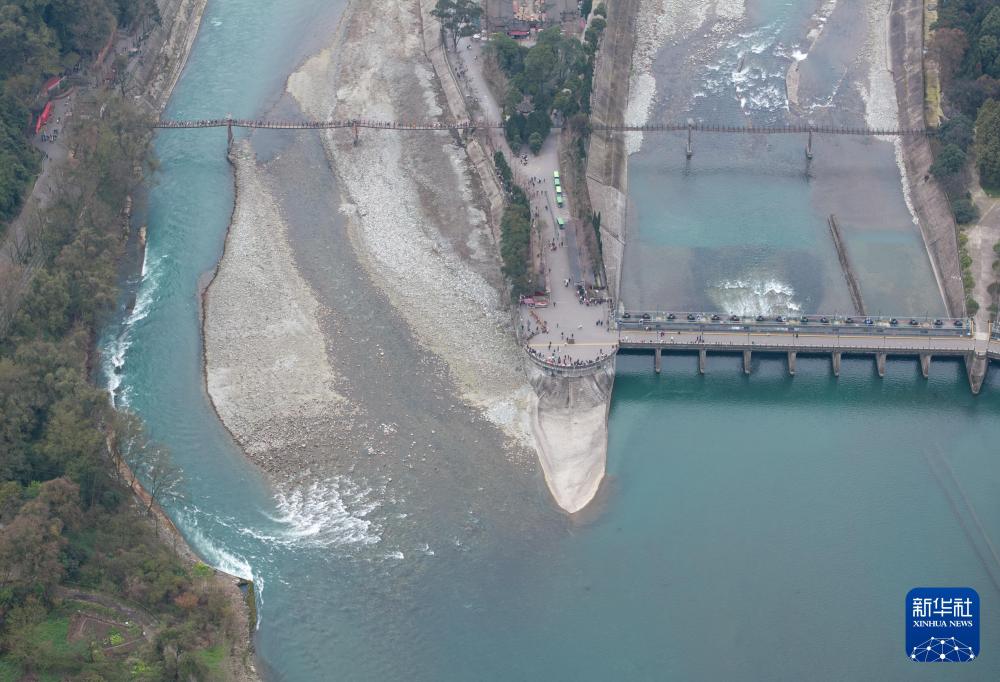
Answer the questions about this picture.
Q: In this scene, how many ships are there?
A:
0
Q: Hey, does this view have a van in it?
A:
No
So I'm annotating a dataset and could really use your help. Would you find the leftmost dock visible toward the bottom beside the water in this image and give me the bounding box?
[522,336,618,518]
